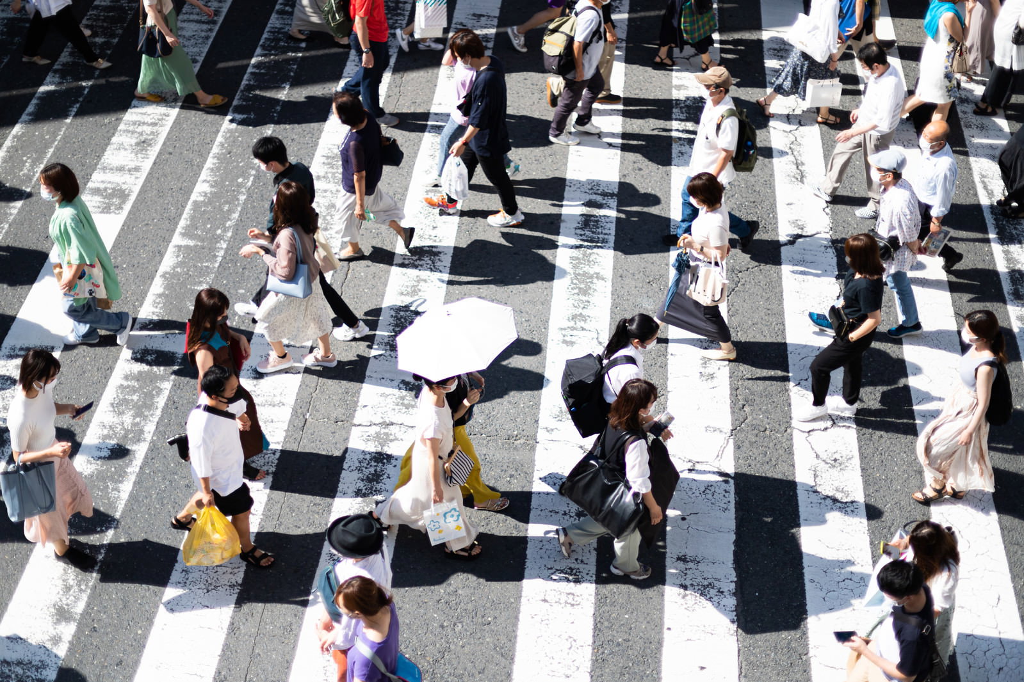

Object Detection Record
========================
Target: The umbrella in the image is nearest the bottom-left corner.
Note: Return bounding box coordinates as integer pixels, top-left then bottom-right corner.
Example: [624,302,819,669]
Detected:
[395,299,519,383]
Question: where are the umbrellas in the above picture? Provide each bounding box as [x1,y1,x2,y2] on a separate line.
[395,299,519,383]
[664,234,689,318]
